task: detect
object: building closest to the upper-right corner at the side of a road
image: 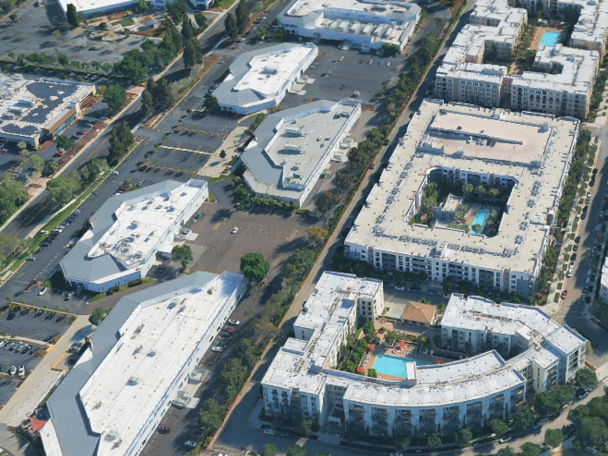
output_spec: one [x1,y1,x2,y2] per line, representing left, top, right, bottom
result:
[436,0,608,119]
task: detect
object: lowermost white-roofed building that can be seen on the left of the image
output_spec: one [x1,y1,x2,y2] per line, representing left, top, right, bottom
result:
[40,270,248,456]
